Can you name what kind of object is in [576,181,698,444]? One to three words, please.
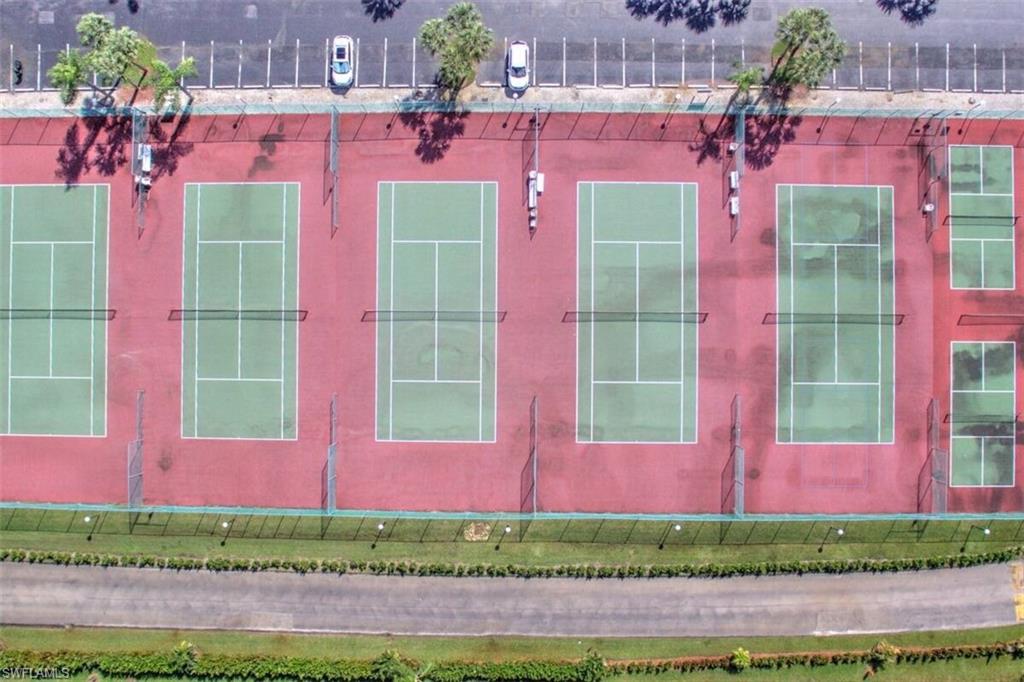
tennis court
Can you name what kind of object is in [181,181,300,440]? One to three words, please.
tennis court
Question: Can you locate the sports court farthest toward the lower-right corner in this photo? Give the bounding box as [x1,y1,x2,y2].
[951,341,1016,487]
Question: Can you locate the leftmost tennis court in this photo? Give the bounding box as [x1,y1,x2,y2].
[0,184,110,437]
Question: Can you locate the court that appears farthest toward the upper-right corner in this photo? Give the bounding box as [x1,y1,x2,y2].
[949,145,1016,290]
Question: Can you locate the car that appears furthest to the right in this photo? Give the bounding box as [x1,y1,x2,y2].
[506,41,531,91]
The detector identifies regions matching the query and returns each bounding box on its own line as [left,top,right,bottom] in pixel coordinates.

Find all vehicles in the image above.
[506,41,531,91]
[329,37,354,88]
[8,60,20,83]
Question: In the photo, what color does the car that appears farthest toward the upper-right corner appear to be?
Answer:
white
